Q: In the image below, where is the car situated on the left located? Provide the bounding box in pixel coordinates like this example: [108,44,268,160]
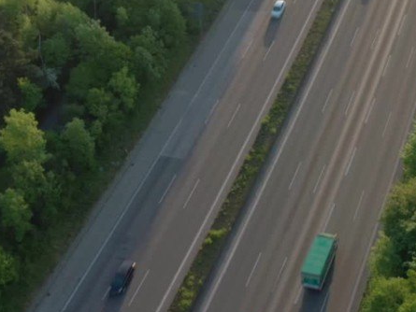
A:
[110,262,137,293]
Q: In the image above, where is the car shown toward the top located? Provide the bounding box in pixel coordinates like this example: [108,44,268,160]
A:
[270,1,286,19]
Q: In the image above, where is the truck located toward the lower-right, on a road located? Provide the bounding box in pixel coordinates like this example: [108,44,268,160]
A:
[301,233,341,293]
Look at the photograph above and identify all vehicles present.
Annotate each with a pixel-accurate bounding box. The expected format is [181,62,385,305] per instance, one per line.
[110,262,137,293]
[301,233,341,293]
[270,1,286,19]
